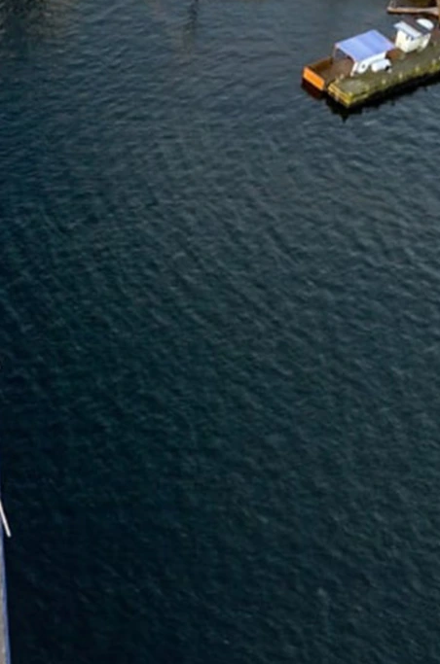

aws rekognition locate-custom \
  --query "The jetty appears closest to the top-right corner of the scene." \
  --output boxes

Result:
[389,1,437,17]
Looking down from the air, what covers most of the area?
water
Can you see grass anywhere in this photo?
No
